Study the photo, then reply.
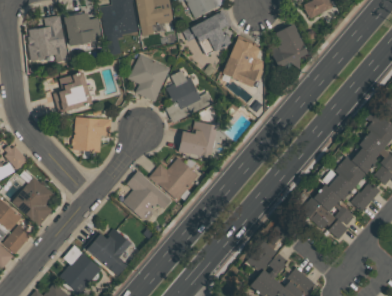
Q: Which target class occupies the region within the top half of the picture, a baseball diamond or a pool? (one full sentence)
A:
Looking within the top half of the picture, you will find a pool.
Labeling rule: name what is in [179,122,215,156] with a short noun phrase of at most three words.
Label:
house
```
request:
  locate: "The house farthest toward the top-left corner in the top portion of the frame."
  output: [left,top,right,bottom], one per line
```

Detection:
[26,16,67,61]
